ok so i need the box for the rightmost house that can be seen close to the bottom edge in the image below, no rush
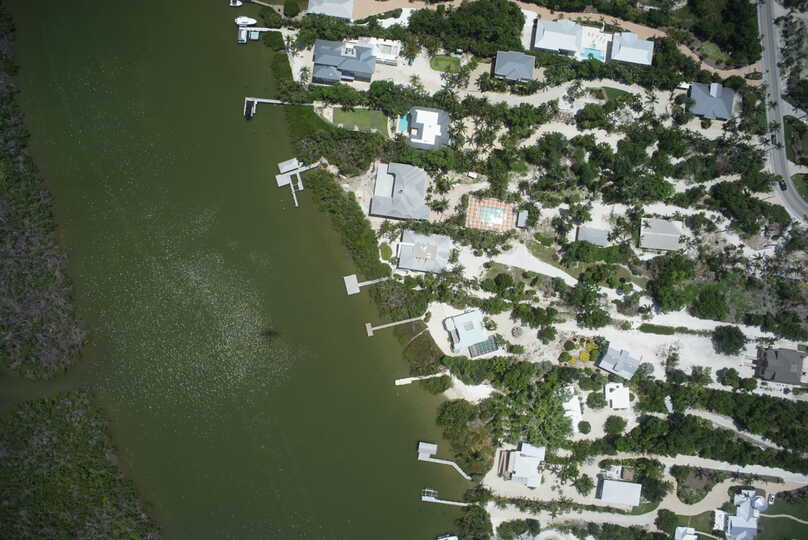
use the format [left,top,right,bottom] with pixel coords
[720,489,768,540]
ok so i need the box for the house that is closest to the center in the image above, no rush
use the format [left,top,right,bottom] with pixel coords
[396,230,449,273]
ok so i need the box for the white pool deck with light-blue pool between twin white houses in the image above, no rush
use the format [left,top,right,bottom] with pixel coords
[582,26,613,62]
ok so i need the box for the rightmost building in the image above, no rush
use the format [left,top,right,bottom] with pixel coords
[746,348,806,385]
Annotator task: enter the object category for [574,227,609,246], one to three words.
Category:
house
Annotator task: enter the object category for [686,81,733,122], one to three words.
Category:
house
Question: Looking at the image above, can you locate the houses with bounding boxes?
[635,218,685,251]
[562,388,583,433]
[597,465,642,506]
[574,227,609,246]
[396,230,449,273]
[607,31,655,66]
[596,341,641,382]
[530,17,583,56]
[492,51,543,82]
[746,348,806,385]
[671,527,698,540]
[720,489,768,540]
[442,309,491,350]
[370,163,432,220]
[603,383,633,410]
[404,107,451,152]
[312,39,376,86]
[686,81,733,122]
[496,443,546,487]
